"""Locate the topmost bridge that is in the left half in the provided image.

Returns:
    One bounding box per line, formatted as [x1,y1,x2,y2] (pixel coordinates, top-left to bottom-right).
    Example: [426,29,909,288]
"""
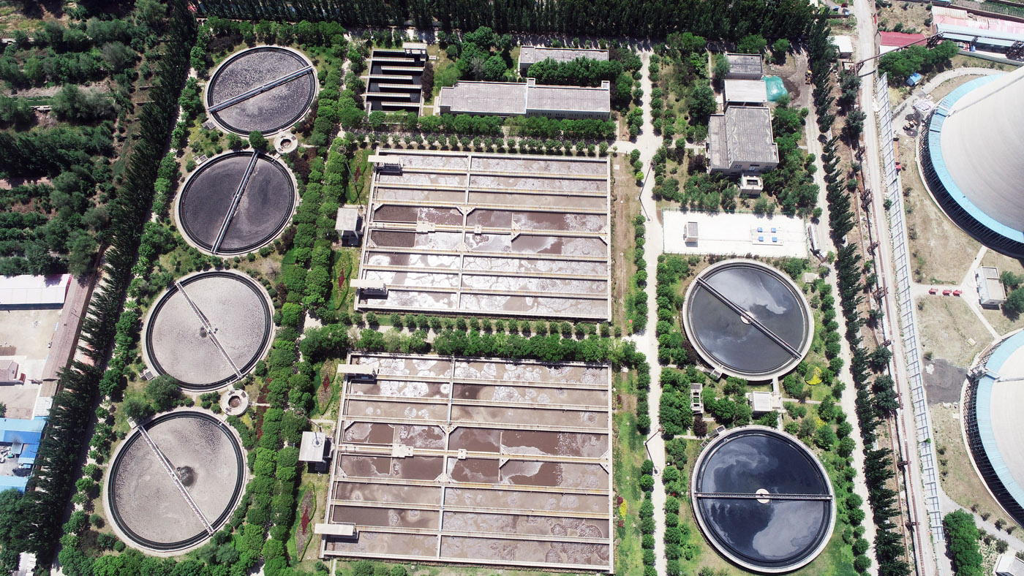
[207,65,314,113]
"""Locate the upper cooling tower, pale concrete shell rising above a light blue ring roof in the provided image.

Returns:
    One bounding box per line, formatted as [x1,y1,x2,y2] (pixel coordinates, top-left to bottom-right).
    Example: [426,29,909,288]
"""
[918,66,1024,258]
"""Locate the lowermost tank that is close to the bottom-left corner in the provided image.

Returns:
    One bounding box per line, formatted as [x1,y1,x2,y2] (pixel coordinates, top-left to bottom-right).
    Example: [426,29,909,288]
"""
[101,405,251,557]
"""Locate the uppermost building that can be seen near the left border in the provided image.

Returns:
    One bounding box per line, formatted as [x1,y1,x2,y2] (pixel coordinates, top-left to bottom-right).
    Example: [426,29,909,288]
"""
[0,274,77,309]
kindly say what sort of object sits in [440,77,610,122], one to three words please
building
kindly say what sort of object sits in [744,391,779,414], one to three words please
building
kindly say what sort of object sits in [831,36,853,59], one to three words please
shed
